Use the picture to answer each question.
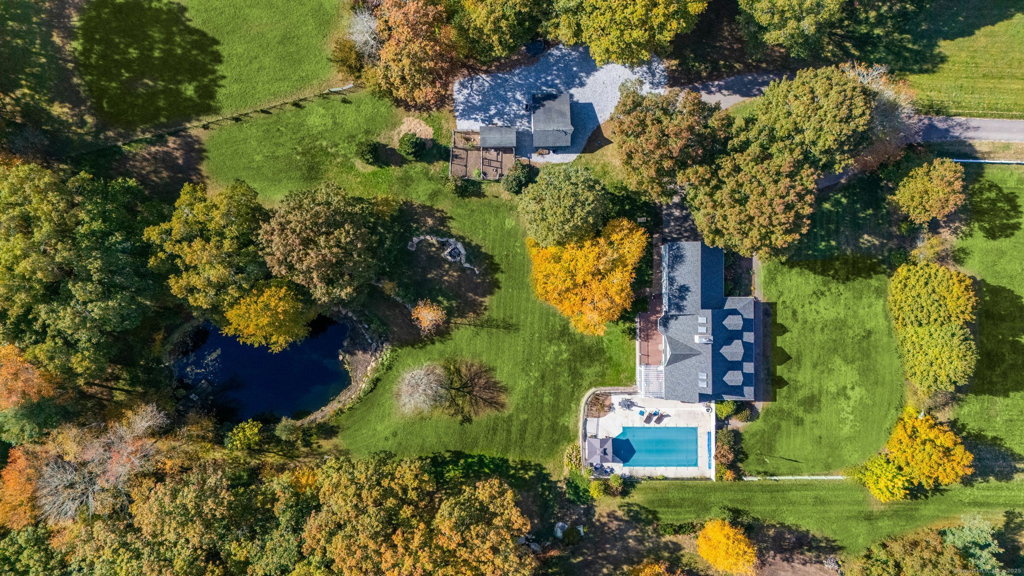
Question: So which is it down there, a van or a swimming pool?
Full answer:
Looking from above, you can make out a swimming pool.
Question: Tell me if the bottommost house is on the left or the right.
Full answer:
The bottommost house sits on the right side.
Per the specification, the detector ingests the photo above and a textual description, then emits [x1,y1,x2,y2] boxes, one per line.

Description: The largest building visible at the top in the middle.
[532,94,575,149]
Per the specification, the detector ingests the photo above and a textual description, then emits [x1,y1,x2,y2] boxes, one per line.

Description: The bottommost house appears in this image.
[656,241,755,404]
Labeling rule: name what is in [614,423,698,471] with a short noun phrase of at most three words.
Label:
swimming pool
